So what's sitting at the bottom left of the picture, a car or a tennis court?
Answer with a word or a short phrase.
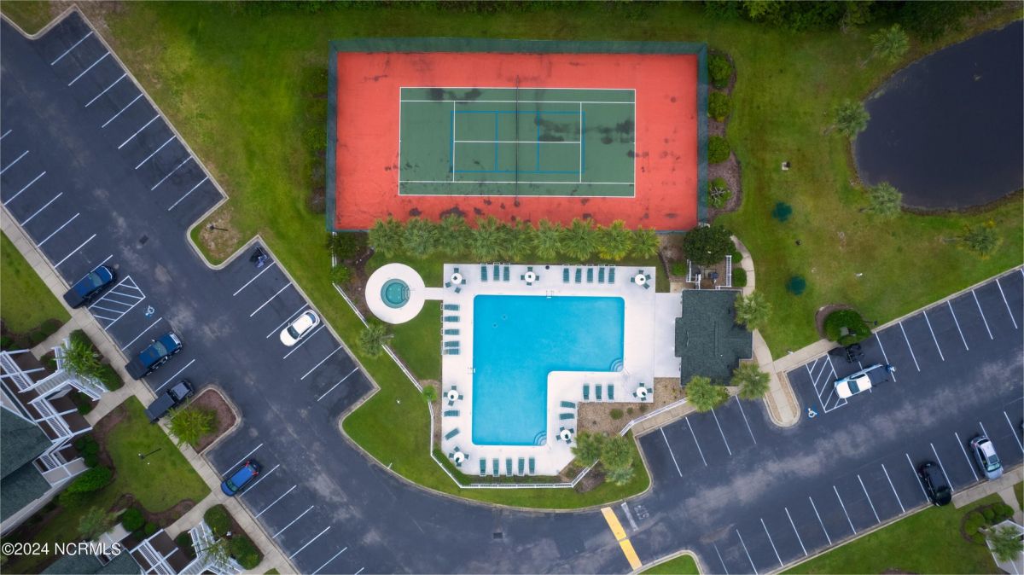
car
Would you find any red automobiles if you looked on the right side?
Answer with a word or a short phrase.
No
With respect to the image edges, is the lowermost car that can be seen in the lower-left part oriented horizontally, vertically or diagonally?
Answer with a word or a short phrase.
diagonally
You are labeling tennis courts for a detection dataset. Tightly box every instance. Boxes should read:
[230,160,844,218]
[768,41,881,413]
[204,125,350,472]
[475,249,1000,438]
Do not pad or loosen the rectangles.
[336,51,698,234]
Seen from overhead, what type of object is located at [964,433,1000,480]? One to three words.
car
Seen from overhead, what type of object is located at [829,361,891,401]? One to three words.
truck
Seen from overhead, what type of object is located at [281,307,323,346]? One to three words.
car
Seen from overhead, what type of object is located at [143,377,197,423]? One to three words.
truck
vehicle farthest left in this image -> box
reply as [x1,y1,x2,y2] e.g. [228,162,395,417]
[64,265,121,312]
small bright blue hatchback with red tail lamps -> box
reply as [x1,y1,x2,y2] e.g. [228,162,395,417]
[223,458,262,494]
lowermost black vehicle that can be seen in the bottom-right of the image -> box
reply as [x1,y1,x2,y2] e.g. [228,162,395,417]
[915,459,950,505]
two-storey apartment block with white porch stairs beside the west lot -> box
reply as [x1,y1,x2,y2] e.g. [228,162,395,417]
[0,340,109,534]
